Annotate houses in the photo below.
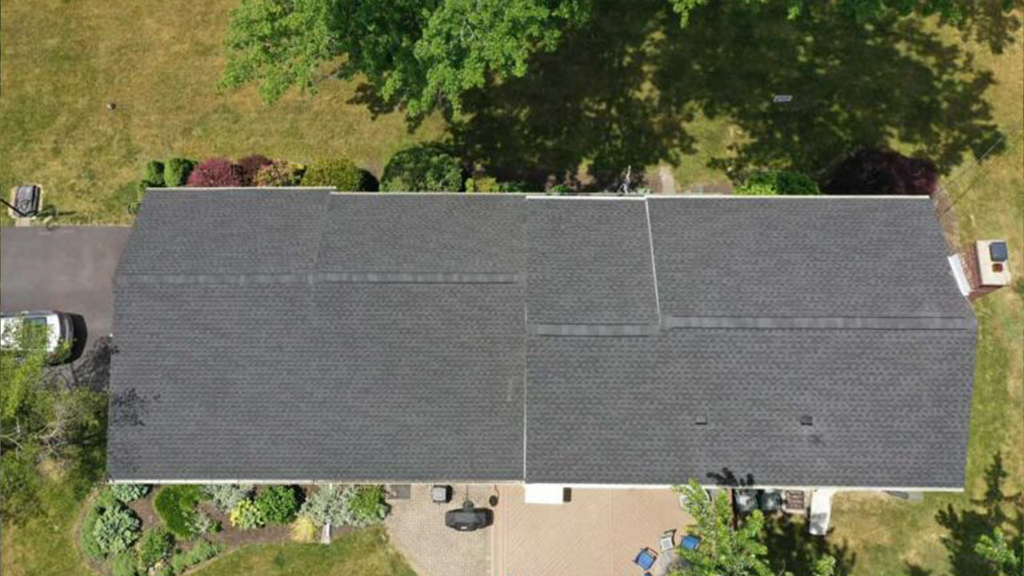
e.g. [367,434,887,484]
[109,186,1011,492]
